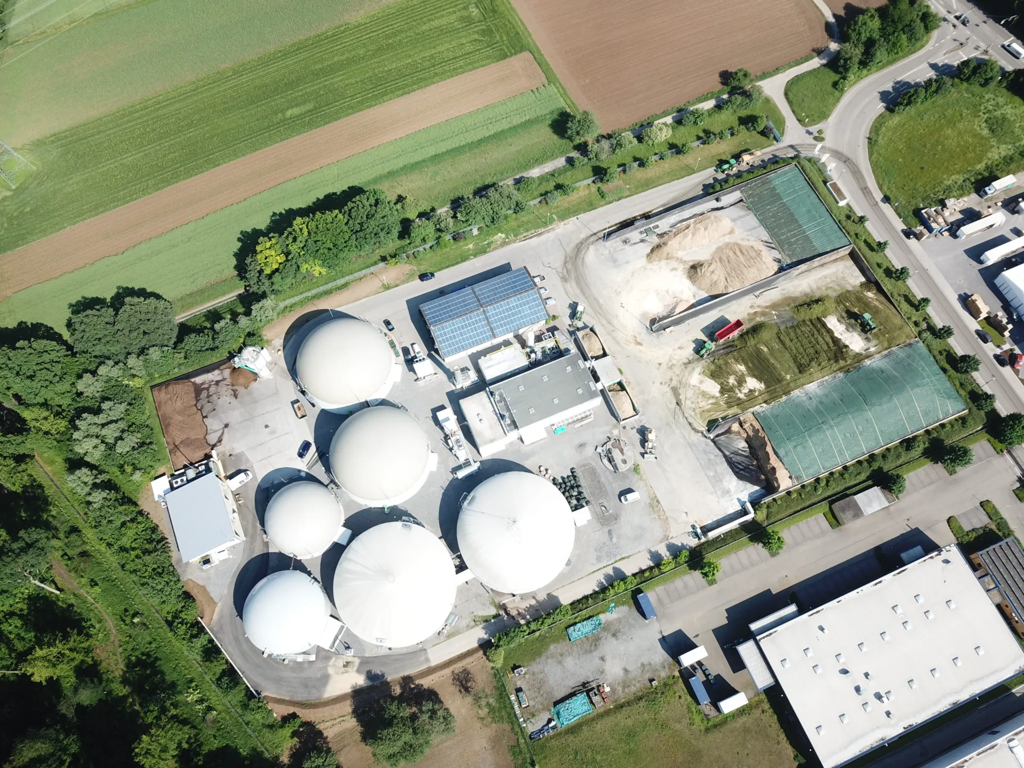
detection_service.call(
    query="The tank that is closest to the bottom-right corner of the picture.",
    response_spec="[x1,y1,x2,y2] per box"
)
[596,436,633,471]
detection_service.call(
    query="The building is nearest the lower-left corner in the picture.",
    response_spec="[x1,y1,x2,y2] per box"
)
[165,472,245,565]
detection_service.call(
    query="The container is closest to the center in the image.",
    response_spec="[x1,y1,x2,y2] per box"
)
[436,408,475,466]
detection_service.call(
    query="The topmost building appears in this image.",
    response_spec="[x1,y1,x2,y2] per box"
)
[824,180,849,207]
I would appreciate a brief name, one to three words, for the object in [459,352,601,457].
building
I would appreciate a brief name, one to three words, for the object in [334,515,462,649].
storage tank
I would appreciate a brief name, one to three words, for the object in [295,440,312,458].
car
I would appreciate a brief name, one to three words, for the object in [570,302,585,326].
work vehicle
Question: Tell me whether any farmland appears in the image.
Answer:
Yes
